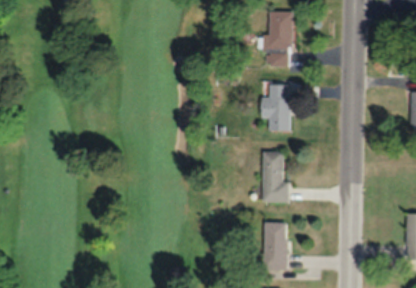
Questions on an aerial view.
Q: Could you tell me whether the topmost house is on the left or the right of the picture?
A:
right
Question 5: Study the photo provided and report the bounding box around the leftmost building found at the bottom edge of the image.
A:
[264,222,293,274]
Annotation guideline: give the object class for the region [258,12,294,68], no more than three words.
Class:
house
